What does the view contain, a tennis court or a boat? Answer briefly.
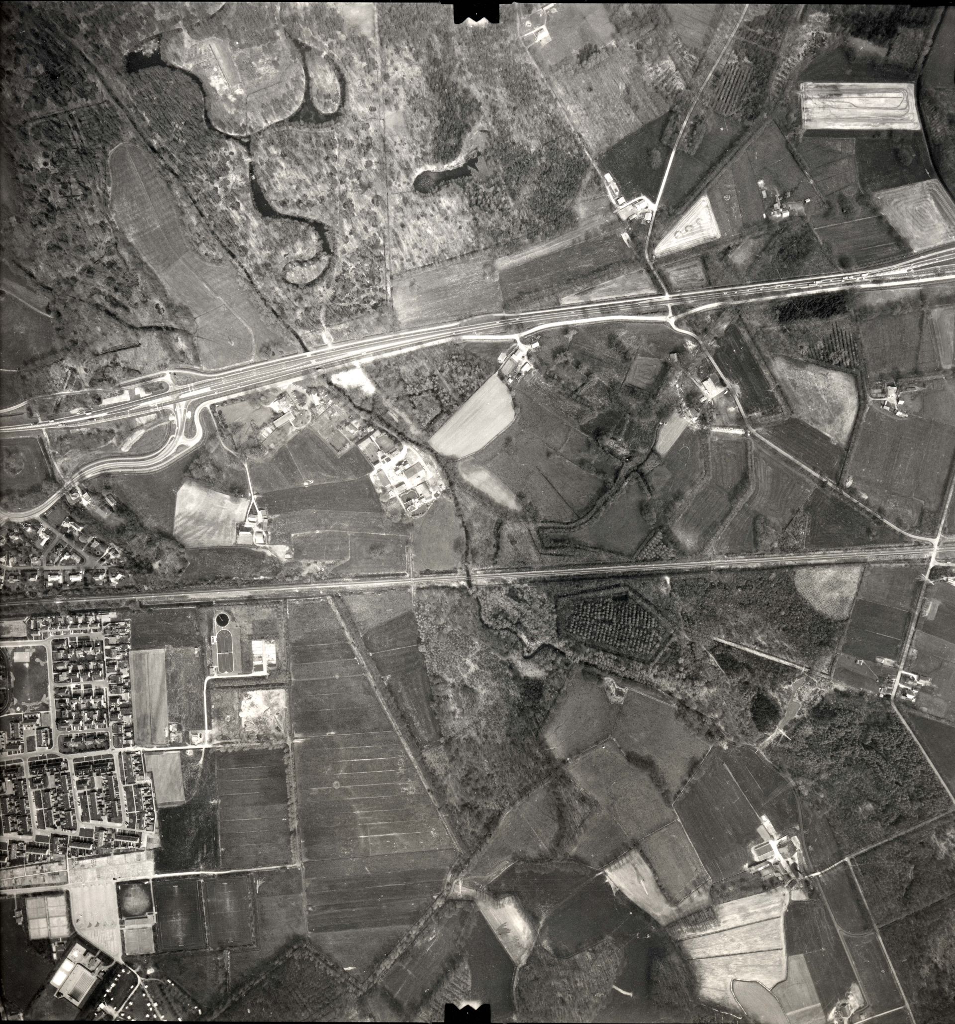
tennis court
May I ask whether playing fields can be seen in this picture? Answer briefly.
Yes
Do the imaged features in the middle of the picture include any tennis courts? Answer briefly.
No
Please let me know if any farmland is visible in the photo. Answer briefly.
Yes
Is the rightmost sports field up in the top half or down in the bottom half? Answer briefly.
bottom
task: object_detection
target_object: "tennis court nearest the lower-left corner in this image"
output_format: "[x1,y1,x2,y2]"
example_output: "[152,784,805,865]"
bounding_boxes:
[25,895,67,939]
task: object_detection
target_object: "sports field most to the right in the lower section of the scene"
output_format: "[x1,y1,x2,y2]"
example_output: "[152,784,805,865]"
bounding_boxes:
[202,875,256,950]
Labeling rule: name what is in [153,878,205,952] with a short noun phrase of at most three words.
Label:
sports field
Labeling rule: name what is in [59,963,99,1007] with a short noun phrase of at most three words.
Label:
building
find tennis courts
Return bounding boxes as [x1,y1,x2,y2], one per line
[25,895,67,939]
[125,914,153,955]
